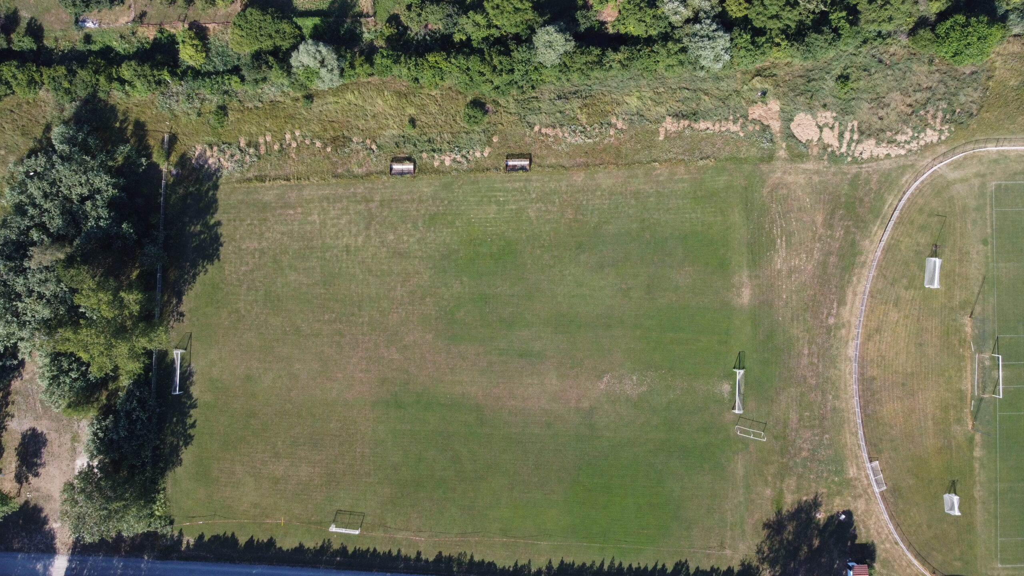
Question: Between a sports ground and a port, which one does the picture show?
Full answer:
The area seen from above is a sports ground.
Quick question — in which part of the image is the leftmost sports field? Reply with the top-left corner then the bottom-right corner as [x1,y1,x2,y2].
[174,164,756,549]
